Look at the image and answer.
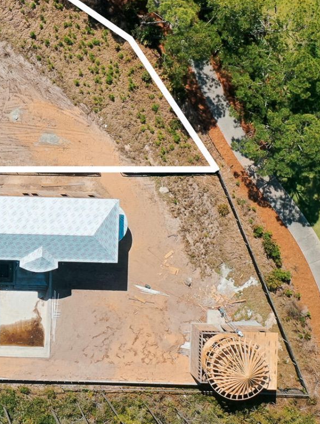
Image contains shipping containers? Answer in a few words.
No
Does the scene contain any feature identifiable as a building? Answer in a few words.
Yes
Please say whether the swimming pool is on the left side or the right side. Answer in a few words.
left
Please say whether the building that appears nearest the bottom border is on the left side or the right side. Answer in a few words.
right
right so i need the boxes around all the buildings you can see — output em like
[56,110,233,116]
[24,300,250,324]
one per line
[192,310,281,401]
[0,190,128,274]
